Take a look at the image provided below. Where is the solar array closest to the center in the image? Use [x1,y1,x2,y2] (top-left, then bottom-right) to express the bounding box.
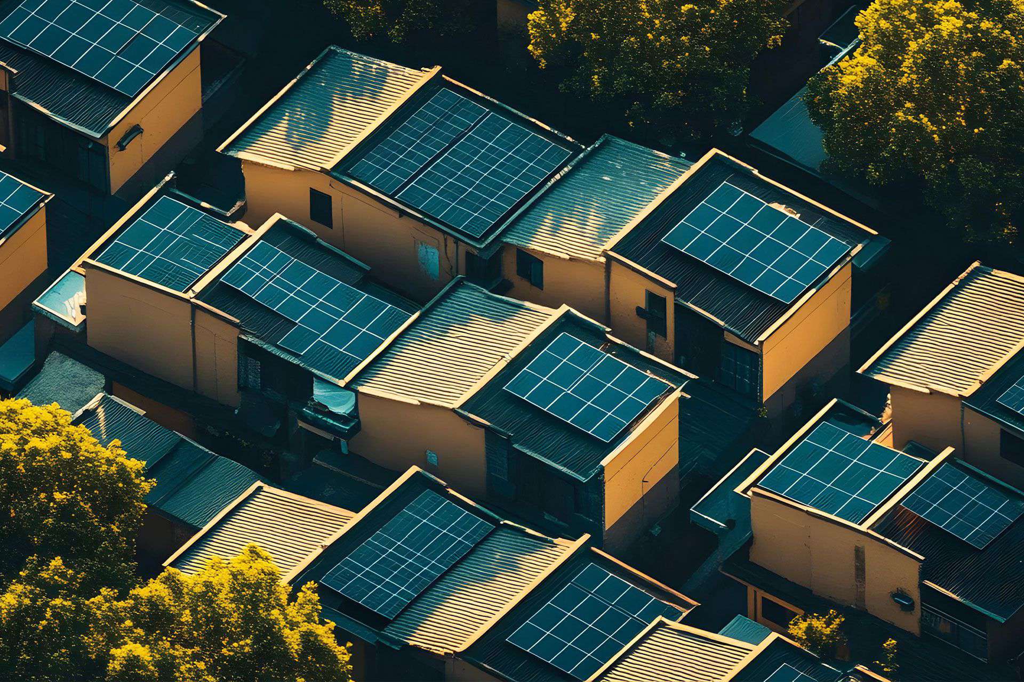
[505,330,672,442]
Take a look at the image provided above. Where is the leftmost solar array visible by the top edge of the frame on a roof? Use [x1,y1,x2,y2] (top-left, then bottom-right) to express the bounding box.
[3,0,206,96]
